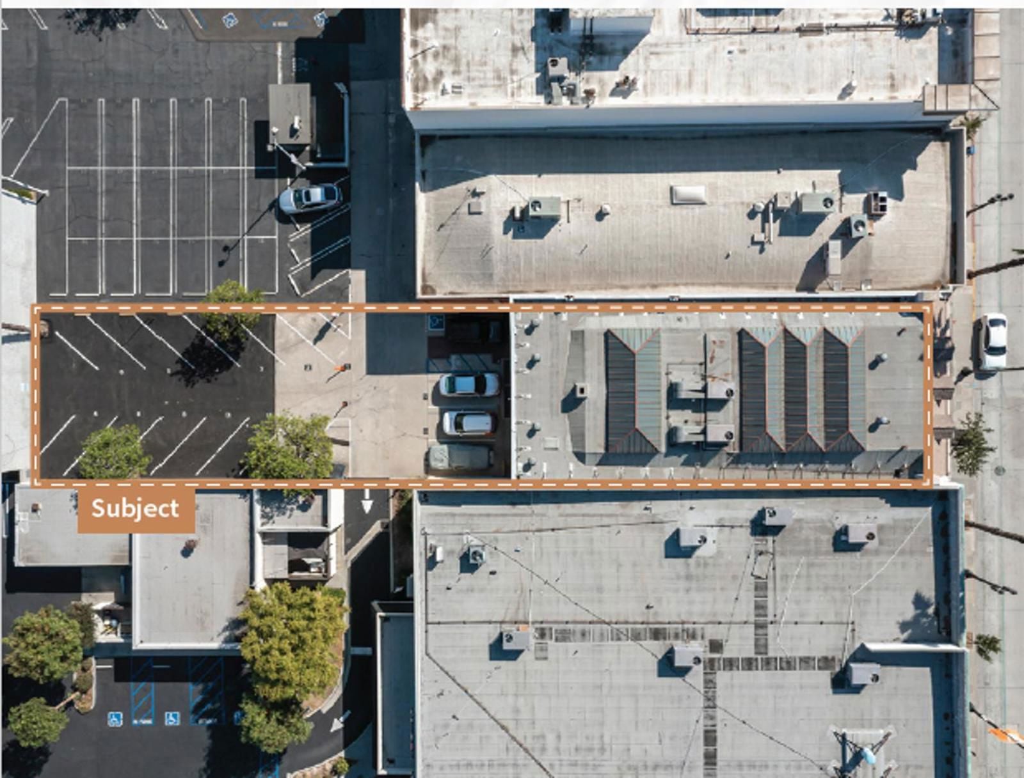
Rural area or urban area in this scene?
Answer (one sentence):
It looks urban.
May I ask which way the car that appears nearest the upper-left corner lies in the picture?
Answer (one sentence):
The car that appears nearest the upper-left corner is laid out from left to right.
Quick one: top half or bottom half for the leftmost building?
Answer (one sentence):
The leftmost building is in the bottom half of the image.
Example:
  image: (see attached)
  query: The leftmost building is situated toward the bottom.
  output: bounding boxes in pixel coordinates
[13,482,148,567]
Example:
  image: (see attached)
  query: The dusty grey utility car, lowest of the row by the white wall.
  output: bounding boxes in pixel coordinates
[429,444,492,473]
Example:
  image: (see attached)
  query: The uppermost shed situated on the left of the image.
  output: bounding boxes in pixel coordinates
[268,83,322,155]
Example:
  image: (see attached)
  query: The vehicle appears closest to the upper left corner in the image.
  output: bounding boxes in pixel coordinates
[280,185,343,216]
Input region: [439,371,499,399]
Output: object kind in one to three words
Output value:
car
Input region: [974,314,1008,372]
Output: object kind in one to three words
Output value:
car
